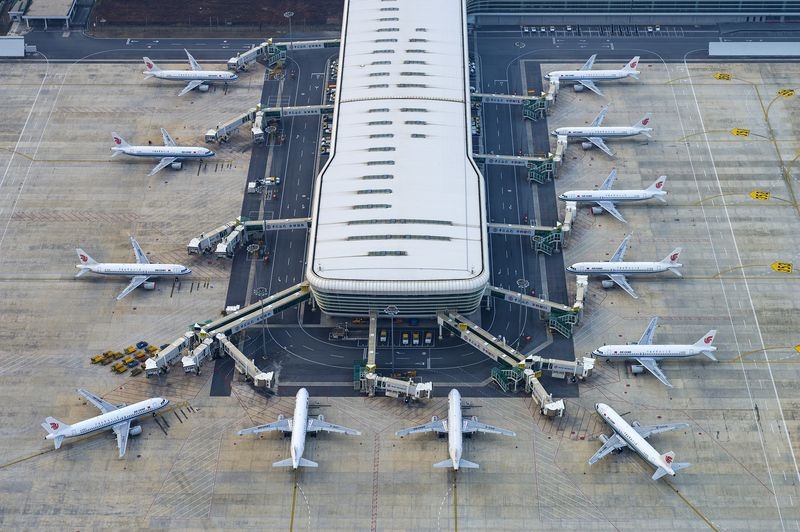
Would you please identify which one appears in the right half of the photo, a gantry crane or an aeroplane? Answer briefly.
aeroplane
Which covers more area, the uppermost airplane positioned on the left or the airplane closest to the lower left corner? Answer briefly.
the airplane closest to the lower left corner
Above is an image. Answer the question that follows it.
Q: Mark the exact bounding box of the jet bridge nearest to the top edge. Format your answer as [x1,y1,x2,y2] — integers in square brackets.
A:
[227,43,273,73]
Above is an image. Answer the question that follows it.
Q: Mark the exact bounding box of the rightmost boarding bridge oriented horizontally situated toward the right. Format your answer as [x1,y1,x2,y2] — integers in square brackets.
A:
[531,354,598,385]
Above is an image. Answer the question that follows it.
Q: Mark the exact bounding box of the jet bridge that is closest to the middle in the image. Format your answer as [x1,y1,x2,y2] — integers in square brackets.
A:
[366,372,436,405]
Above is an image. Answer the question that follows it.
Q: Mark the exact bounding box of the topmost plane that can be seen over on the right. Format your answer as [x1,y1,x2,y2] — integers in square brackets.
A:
[545,53,641,97]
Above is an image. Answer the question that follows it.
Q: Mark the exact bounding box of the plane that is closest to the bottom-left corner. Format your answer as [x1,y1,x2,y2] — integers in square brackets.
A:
[42,388,168,460]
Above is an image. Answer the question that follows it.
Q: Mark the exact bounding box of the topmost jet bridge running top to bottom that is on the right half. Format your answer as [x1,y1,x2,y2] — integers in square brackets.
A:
[545,76,559,117]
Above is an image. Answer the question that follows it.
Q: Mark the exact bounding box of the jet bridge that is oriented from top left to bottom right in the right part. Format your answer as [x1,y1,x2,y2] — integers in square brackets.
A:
[523,369,565,422]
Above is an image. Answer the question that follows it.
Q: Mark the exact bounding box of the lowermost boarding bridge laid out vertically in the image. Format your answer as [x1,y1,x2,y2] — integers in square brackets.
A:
[570,272,588,327]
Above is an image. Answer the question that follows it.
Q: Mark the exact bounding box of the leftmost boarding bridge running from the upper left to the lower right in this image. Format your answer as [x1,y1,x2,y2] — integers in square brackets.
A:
[216,333,273,393]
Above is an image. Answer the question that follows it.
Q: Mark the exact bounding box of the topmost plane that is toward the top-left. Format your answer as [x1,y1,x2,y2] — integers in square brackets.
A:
[142,54,238,97]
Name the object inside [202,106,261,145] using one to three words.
jet bridge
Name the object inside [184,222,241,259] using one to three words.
jet bridge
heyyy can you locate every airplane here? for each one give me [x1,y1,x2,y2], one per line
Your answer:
[238,387,357,470]
[559,168,668,223]
[593,316,718,388]
[42,388,168,460]
[110,127,213,177]
[142,54,238,97]
[567,236,683,298]
[75,237,191,299]
[552,107,654,155]
[589,403,690,478]
[395,388,515,471]
[545,53,641,97]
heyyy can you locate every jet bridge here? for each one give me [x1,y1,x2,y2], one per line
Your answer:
[366,372,436,405]
[202,106,261,145]
[141,331,196,378]
[545,76,559,117]
[252,112,267,144]
[212,227,245,262]
[552,134,568,179]
[178,337,215,377]
[561,202,577,249]
[184,222,241,259]
[531,354,598,385]
[216,333,273,393]
[227,43,273,73]
[570,272,588,327]
[523,369,565,422]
